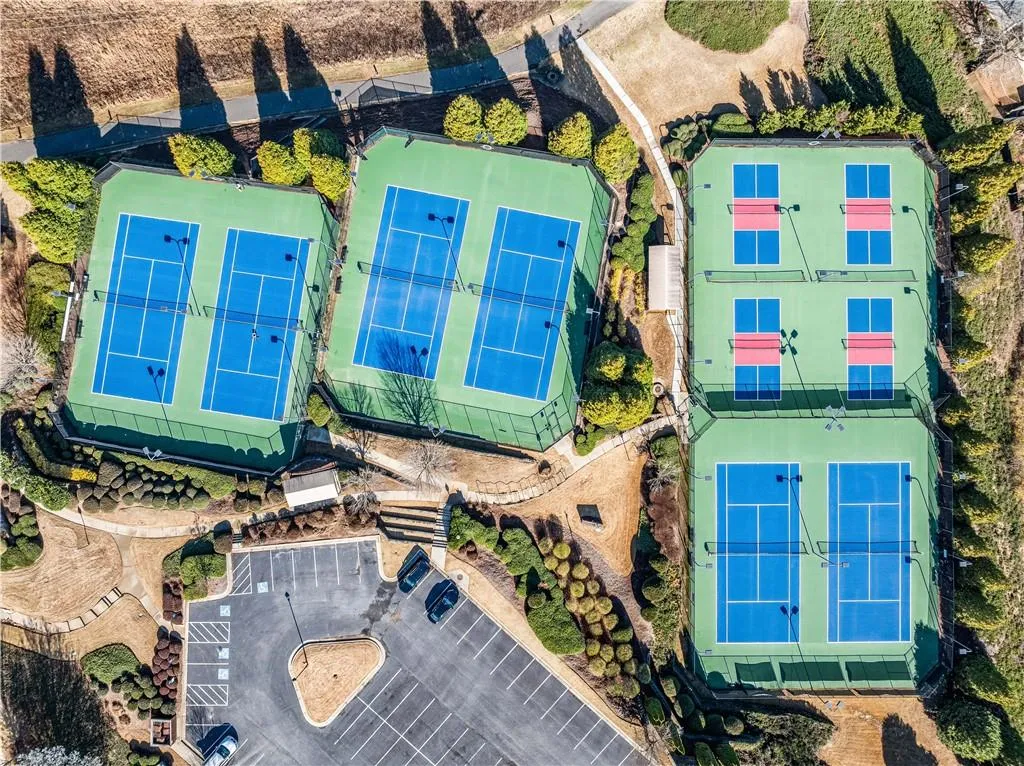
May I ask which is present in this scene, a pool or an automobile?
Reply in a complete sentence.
I can see an automobile in this picture.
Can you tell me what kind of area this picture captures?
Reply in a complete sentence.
What you see here is a sports ground.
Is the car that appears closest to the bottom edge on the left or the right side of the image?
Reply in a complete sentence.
You can find the car that appears closest to the bottom edge on the left side of the picture.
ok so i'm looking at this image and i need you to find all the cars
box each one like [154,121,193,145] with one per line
[397,555,433,593]
[426,585,461,623]
[202,734,239,766]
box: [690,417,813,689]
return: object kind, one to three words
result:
tennis court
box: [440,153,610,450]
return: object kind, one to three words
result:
tennis court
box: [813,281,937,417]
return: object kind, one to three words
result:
sports court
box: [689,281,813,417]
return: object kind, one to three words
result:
sports court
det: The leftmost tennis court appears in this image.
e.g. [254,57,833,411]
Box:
[65,170,221,456]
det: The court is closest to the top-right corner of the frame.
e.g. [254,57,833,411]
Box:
[813,147,936,281]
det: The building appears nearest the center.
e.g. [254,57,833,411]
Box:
[645,246,682,311]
